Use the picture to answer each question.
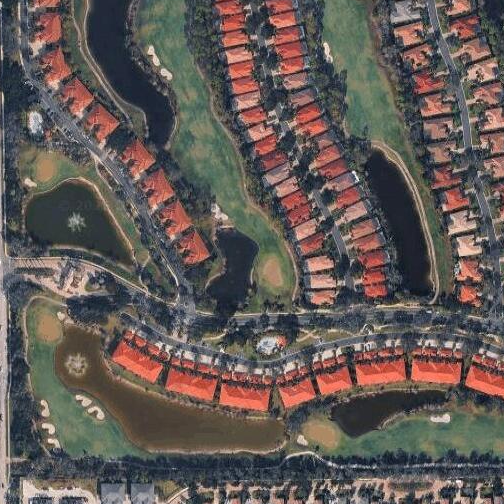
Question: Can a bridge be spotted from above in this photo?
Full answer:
No, there isn't any bridge down there.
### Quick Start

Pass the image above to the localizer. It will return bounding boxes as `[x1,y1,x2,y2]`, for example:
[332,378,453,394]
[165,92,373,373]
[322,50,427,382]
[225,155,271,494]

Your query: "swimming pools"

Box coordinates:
[257,335,278,354]
[28,110,43,134]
